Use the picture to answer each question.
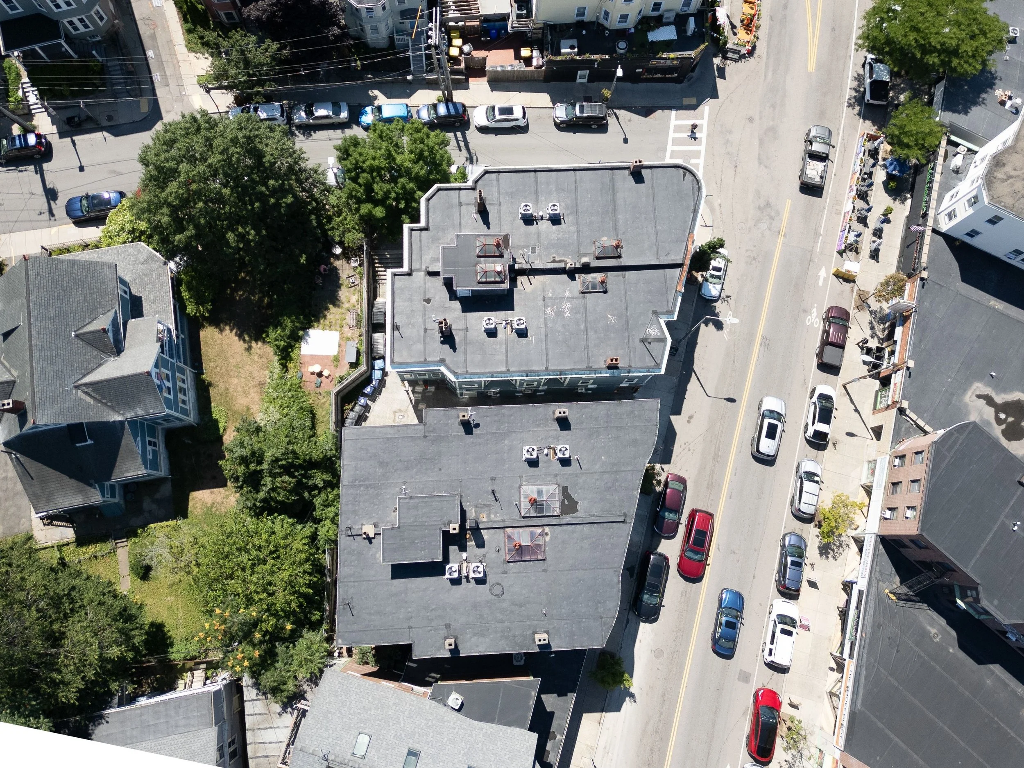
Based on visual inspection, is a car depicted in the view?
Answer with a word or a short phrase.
Yes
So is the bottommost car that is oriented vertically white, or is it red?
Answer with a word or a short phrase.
red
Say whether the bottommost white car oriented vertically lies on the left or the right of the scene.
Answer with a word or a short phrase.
right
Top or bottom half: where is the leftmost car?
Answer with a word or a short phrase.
top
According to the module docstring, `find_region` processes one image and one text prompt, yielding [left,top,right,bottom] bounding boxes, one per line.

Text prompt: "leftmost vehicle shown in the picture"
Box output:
[0,131,50,163]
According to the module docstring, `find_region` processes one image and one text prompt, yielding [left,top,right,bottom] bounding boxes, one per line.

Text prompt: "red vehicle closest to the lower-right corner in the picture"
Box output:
[747,687,783,762]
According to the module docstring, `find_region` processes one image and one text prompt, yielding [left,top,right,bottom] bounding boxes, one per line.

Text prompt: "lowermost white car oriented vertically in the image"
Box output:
[764,597,799,671]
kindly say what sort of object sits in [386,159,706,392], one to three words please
building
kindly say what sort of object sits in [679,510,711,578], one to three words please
car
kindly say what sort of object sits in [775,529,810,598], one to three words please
car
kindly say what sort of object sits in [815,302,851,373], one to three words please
truck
